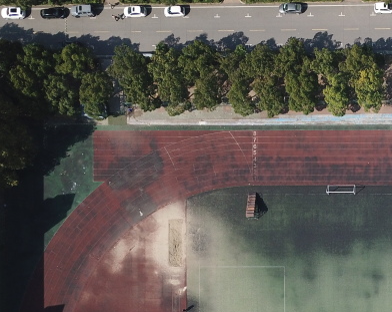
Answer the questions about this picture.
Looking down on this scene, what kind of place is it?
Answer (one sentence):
It's a sports ground.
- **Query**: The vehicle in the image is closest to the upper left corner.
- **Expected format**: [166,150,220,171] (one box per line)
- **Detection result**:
[0,4,23,18]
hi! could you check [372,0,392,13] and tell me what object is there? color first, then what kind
white vehicle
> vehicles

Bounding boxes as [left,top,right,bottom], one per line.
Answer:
[39,3,65,18]
[0,4,23,18]
[121,3,147,17]
[161,3,186,17]
[67,2,93,16]
[278,0,302,14]
[372,0,392,13]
